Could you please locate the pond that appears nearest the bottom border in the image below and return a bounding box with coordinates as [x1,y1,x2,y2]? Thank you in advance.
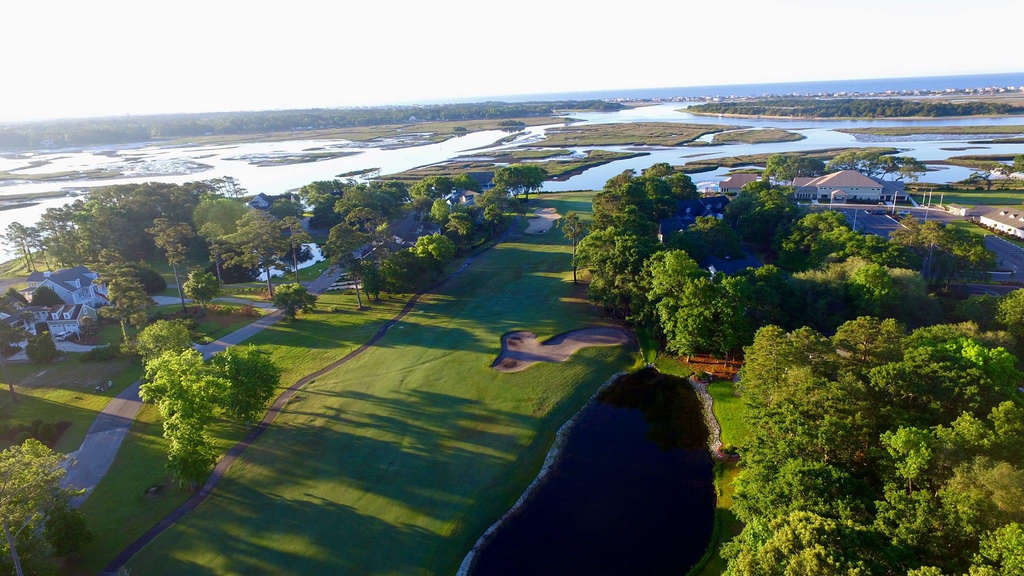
[466,368,721,576]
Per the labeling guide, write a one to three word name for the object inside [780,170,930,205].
building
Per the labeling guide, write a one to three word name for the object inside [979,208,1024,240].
building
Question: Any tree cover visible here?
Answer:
Yes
